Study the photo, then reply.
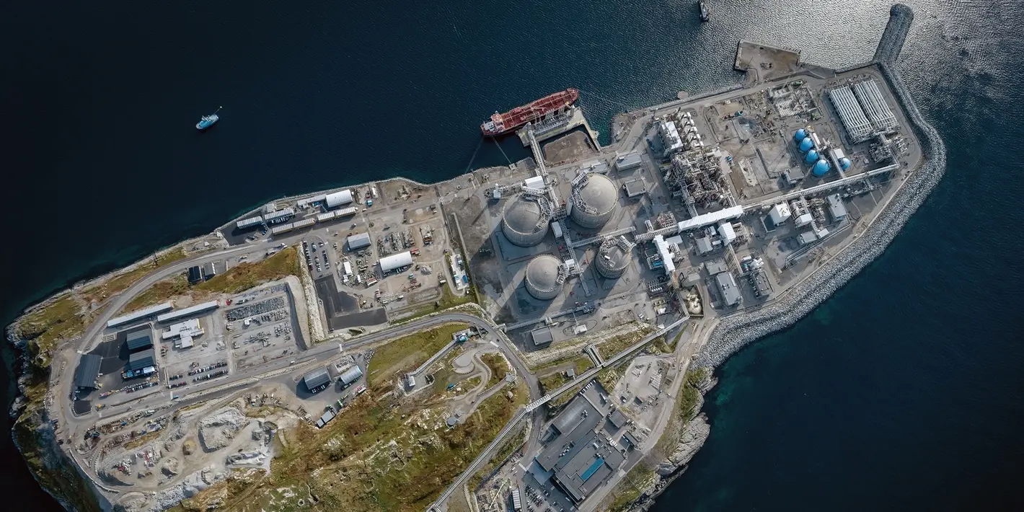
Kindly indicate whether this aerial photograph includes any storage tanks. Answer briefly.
Yes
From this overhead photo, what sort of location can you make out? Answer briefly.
port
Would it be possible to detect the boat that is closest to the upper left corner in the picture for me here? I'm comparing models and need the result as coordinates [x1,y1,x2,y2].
[196,115,221,129]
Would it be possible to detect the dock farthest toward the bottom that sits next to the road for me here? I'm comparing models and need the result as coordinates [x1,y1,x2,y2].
[515,107,601,152]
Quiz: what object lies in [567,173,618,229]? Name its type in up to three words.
storage tank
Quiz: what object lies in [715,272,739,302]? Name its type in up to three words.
building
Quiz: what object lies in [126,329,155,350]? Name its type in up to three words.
shed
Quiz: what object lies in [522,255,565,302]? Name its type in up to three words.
storage tank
